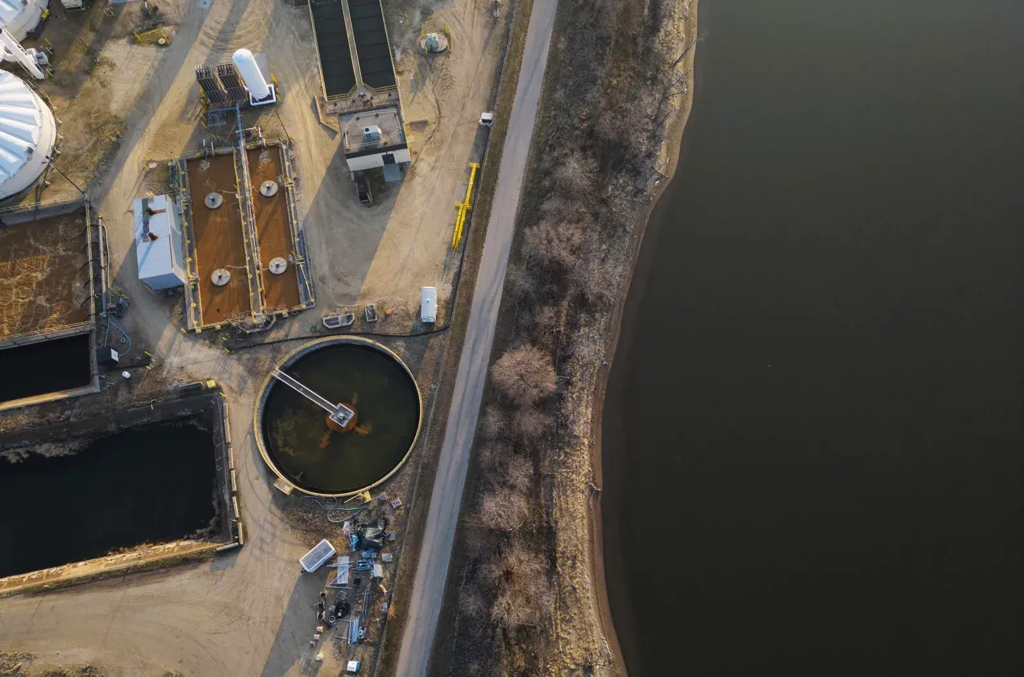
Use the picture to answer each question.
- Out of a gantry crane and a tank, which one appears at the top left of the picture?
tank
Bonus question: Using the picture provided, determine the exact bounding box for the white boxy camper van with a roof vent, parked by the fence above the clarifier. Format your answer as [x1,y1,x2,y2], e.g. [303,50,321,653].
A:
[420,284,437,326]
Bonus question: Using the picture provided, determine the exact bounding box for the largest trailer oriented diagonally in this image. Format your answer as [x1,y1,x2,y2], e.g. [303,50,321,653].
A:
[302,539,338,574]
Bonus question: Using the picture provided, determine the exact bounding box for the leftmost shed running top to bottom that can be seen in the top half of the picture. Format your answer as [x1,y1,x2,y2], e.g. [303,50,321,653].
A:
[134,194,184,288]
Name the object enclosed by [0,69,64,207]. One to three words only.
storage tank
